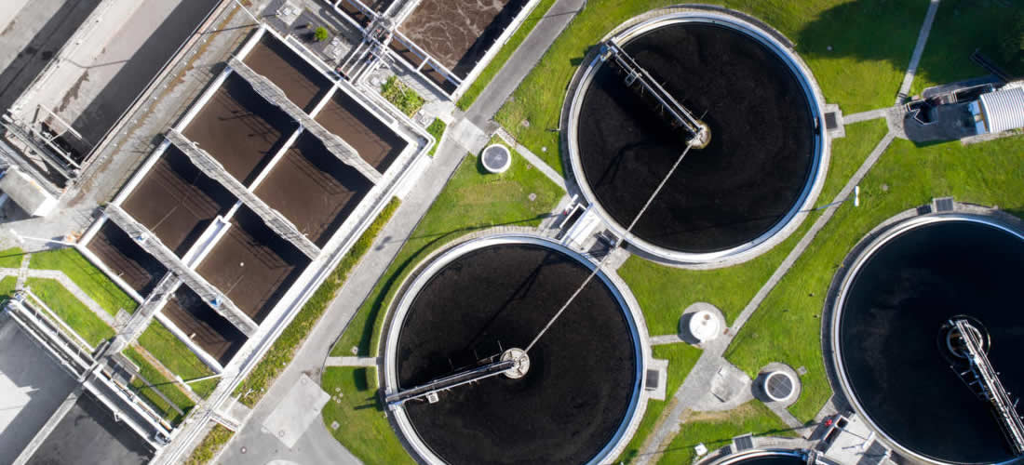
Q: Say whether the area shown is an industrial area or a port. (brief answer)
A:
industrial area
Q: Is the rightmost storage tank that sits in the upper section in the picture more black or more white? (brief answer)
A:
black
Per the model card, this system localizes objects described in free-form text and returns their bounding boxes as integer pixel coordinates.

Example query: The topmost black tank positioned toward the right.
[569,9,825,266]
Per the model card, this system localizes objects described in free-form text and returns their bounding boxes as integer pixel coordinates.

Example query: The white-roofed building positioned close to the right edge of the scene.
[968,86,1024,137]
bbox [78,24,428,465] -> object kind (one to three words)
storage tank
